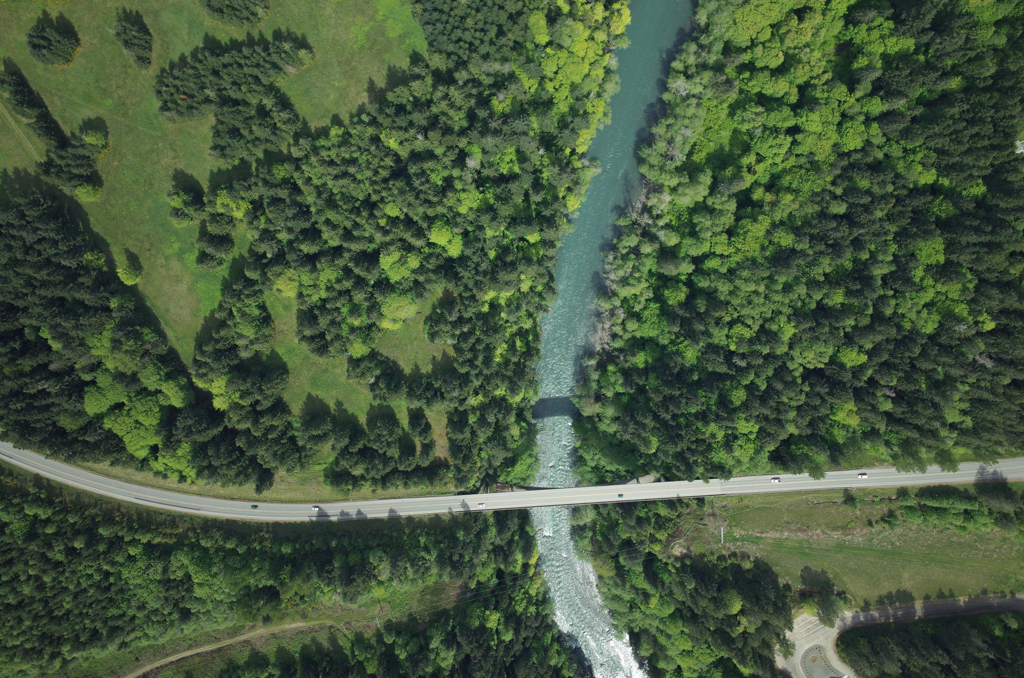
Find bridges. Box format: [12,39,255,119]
[457,466,722,514]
